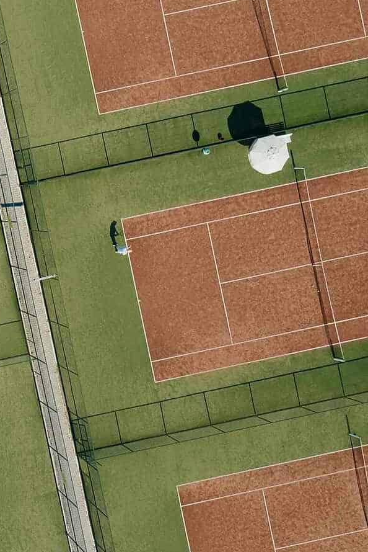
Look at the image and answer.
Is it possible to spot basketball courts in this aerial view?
No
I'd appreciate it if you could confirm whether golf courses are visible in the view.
No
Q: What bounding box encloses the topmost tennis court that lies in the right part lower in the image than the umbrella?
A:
[122,169,368,383]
